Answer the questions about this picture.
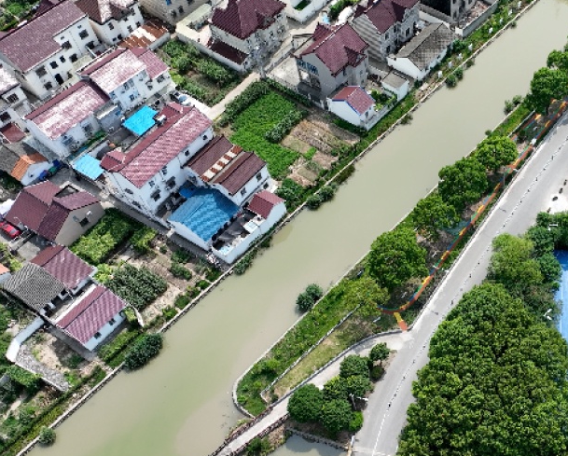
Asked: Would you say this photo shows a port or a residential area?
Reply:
residential area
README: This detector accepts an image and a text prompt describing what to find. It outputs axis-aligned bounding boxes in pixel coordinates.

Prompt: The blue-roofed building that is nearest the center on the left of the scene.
[168,181,245,251]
